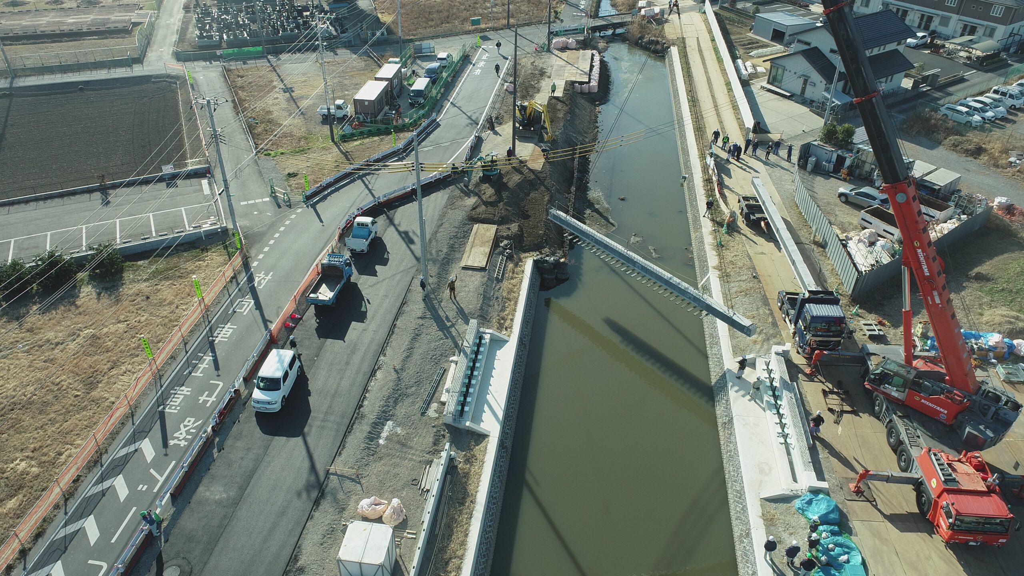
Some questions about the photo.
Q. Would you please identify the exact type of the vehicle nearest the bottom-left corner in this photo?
automobile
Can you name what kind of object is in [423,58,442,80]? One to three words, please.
car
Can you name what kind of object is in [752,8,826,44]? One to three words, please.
shed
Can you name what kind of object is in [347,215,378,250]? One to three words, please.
truck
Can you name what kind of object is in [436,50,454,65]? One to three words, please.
car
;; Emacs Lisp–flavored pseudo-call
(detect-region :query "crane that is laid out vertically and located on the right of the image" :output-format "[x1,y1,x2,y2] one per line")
[802,0,1024,558]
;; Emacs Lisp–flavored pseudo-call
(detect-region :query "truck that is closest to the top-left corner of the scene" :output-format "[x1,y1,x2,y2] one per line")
[319,98,354,119]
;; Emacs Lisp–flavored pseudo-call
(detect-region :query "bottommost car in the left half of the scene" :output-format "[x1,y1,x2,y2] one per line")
[250,348,301,409]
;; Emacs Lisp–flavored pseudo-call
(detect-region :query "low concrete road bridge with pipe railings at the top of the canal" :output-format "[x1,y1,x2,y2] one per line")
[591,2,666,35]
